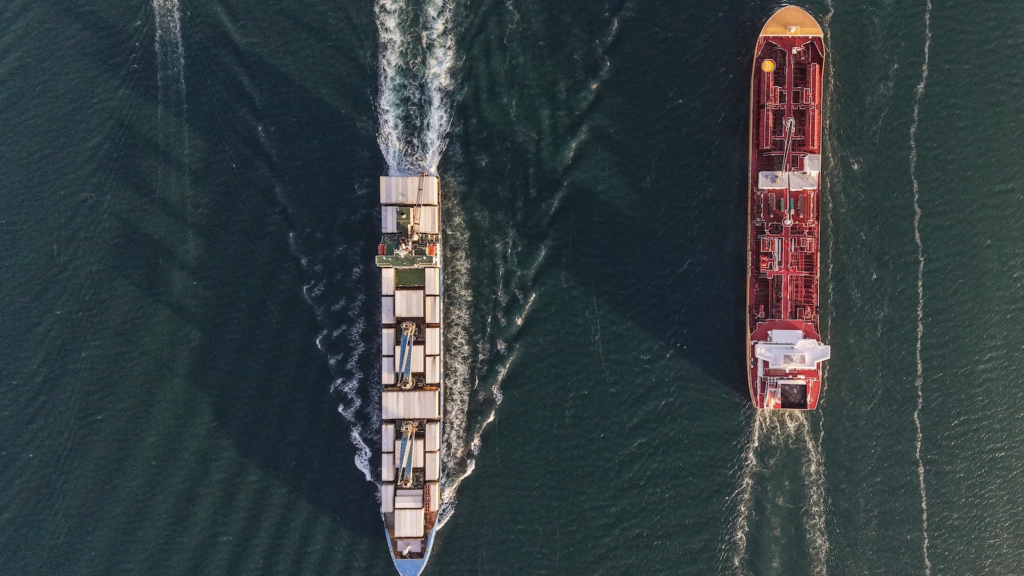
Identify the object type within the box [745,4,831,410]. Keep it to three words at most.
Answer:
ship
